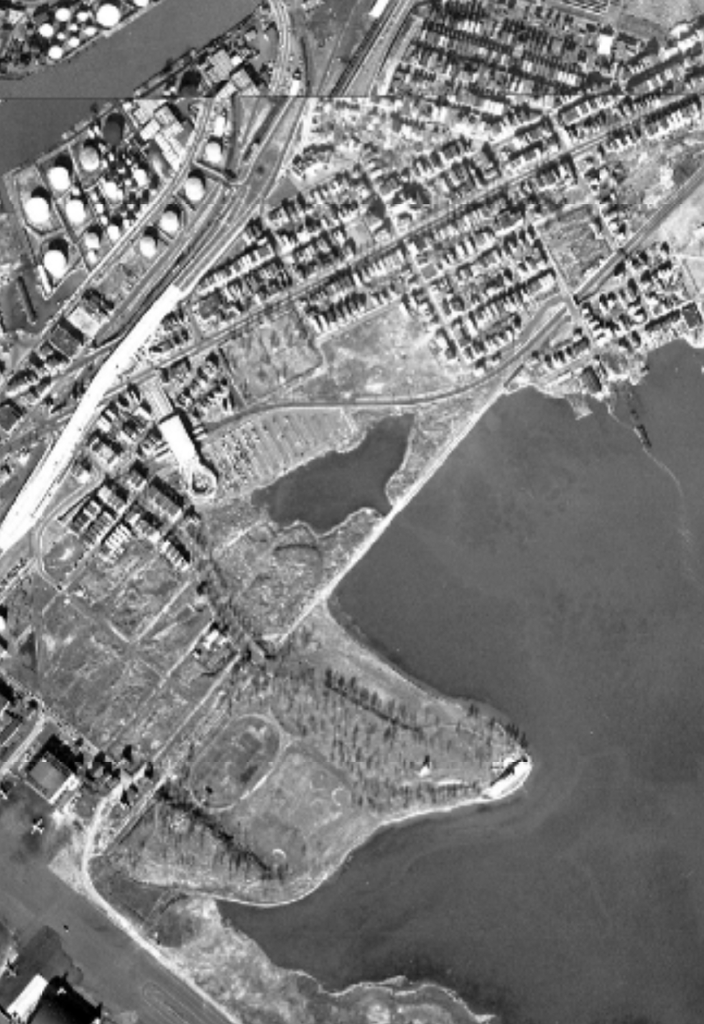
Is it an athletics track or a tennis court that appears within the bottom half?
athletics track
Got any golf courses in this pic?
No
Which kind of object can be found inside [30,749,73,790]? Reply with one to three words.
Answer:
hangar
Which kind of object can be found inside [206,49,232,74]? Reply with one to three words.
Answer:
building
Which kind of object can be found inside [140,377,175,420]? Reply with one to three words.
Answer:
building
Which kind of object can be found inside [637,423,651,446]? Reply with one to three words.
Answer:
ship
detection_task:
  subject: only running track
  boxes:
[186,709,282,816]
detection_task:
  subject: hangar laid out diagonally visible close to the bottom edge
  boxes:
[5,976,49,1023]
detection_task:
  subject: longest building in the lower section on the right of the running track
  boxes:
[489,763,525,796]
